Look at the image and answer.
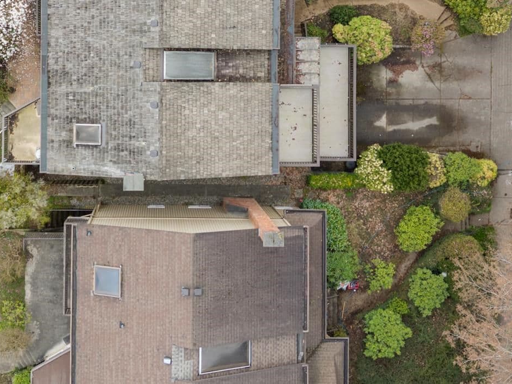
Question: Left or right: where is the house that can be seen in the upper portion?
left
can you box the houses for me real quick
[70,197,348,384]
[40,0,295,191]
